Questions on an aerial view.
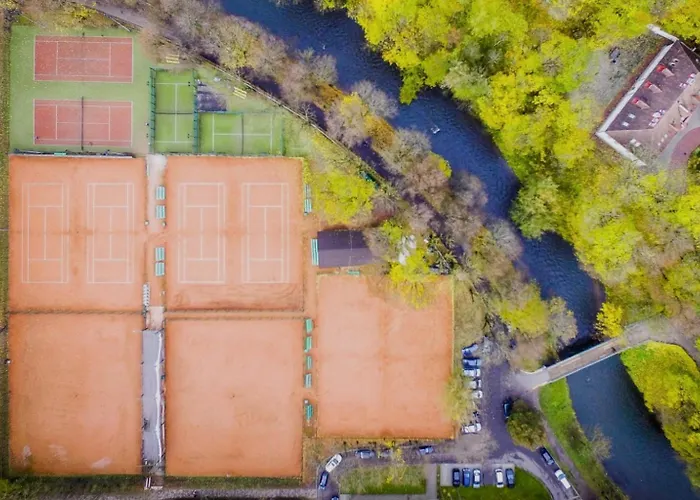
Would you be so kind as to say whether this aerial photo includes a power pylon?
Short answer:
No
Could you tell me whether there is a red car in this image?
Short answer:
No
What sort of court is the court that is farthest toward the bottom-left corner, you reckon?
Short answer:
tennis court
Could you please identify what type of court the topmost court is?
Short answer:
tennis court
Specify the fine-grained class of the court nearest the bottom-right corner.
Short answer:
tennis court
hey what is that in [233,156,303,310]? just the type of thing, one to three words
tennis court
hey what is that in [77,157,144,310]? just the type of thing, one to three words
tennis court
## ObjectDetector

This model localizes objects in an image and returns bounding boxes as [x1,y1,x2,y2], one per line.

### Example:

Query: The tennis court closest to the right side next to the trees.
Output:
[318,276,454,438]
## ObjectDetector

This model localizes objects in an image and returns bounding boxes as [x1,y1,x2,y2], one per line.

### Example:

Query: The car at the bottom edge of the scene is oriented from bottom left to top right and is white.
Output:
[323,453,343,476]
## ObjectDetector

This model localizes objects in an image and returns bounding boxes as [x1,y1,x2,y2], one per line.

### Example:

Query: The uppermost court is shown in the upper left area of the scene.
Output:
[10,25,146,90]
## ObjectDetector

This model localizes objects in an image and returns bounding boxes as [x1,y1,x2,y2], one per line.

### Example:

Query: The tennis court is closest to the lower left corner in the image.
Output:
[9,315,142,475]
